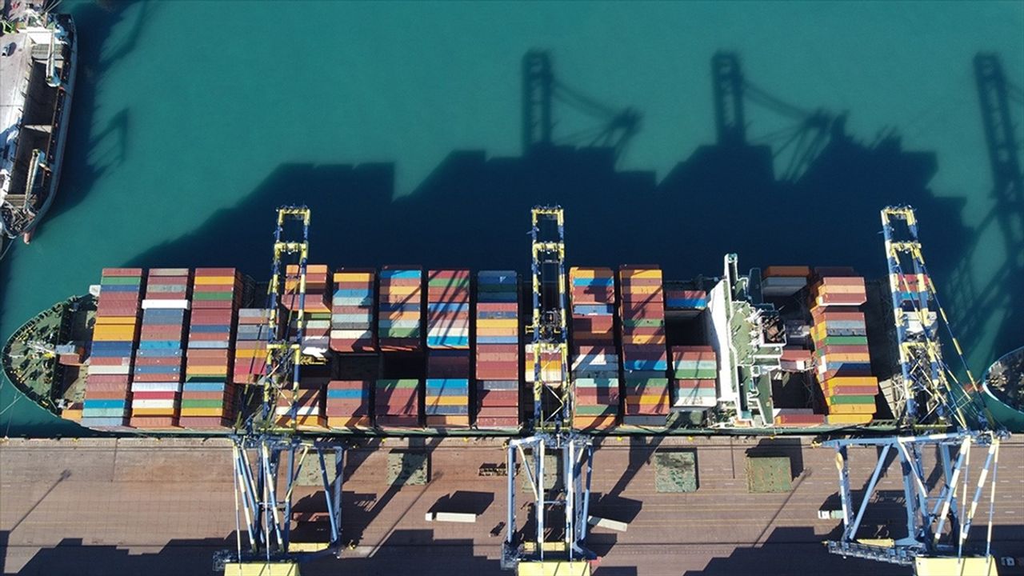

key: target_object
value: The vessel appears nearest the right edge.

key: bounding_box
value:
[960,345,1024,419]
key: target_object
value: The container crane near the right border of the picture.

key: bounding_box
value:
[799,203,1015,576]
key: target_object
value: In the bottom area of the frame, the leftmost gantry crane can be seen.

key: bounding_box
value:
[214,203,370,576]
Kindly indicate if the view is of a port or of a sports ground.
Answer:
port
